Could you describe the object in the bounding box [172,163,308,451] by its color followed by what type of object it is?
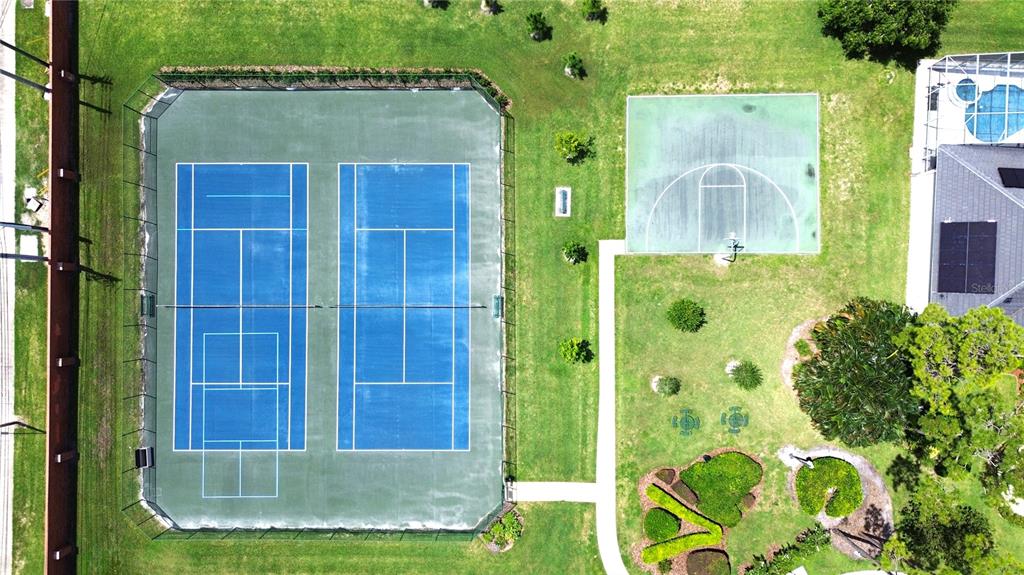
blue tennis court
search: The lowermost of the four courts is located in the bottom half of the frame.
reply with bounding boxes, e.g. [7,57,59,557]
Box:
[202,333,279,498]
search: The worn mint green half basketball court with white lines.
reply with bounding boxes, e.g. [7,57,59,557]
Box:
[626,94,820,253]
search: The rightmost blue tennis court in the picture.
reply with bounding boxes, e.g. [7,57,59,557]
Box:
[336,163,471,451]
